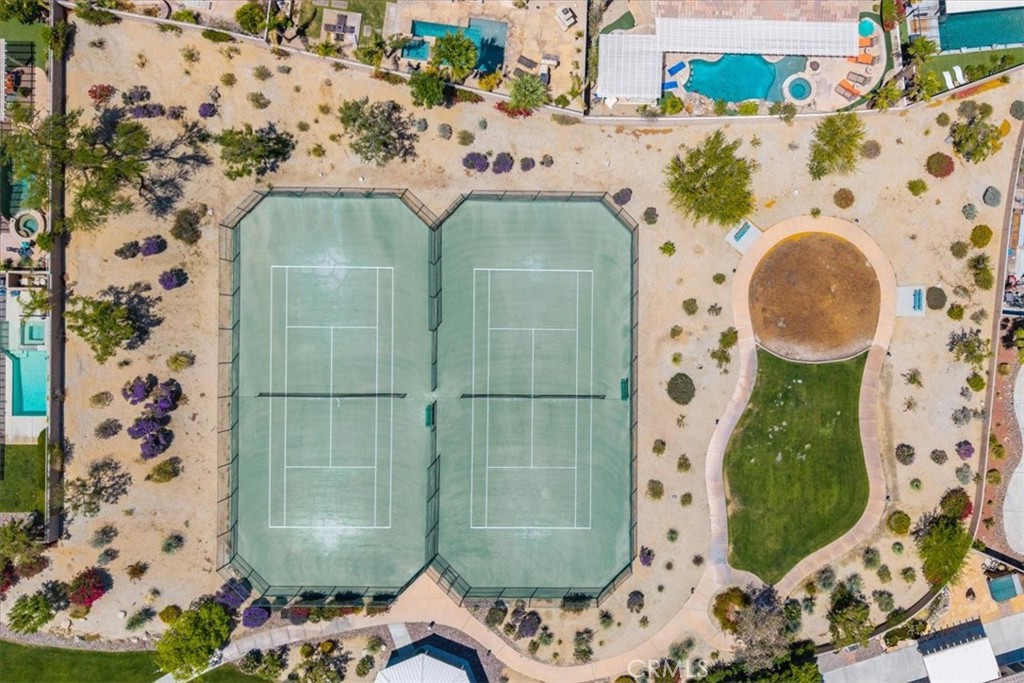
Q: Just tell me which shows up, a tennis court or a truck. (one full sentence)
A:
Looking from above, you can make out a tennis court.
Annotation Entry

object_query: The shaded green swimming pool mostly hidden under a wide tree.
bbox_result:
[0,147,32,224]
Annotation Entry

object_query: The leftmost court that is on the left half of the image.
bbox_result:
[230,191,434,595]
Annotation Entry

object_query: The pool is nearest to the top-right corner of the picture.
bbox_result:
[937,7,1024,53]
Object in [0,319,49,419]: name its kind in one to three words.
swimming pool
